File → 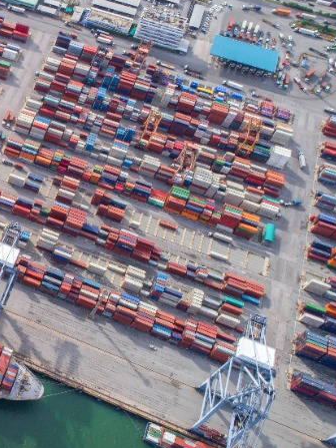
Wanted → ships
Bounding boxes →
[141,421,171,448]
[0,364,44,401]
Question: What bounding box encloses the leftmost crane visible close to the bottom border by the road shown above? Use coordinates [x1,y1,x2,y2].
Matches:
[185,313,282,448]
